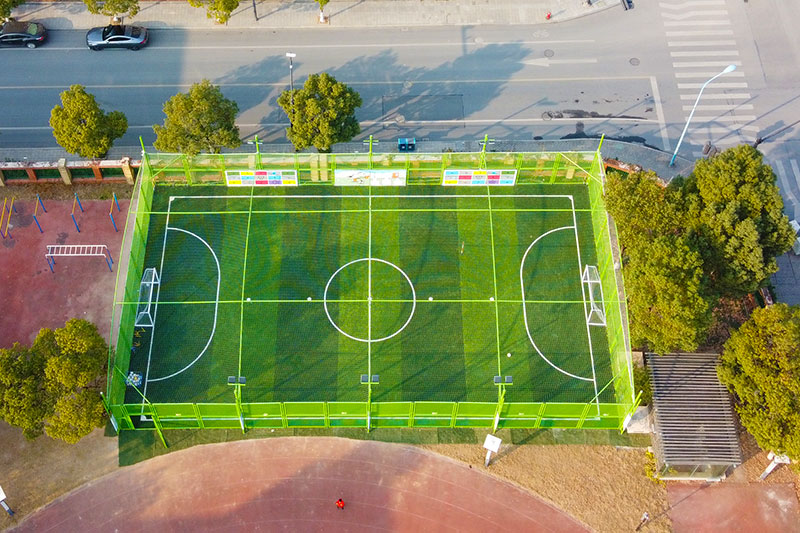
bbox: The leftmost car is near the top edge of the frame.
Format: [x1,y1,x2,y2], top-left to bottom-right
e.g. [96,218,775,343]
[0,21,48,48]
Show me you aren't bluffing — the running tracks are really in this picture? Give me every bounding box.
[0,434,596,533]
